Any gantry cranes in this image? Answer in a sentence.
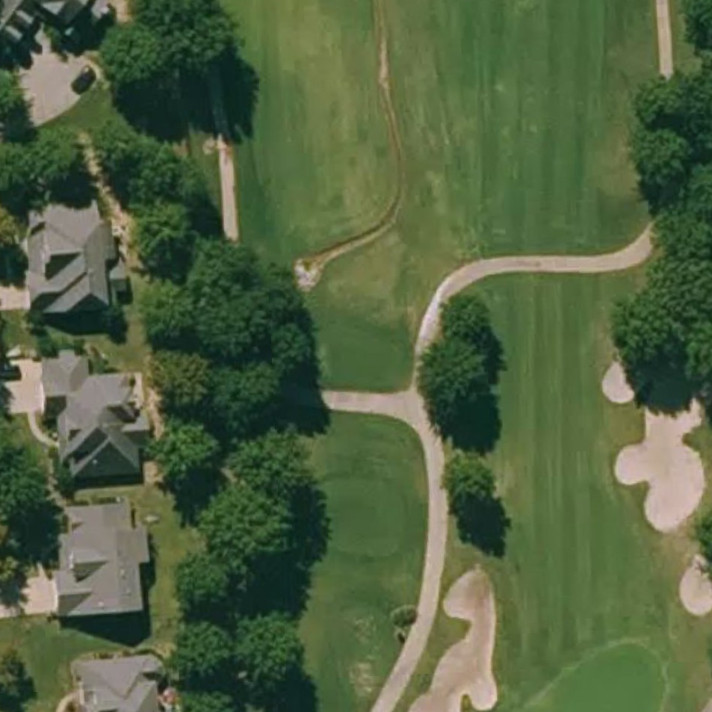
No, there is no gantry crane in the image.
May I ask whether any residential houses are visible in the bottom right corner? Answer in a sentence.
No, no residential house can be made out in the bottom right corner.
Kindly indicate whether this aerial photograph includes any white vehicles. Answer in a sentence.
No, there appears to be no white vehicle in this shot.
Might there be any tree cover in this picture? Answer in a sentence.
Yes, tree cover can be seen from above here.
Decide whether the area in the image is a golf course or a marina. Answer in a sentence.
What you see here is a golf course.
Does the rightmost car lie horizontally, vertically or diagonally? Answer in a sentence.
Seen from above, the rightmost car lies diagonally.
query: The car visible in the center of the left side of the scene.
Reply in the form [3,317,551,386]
[0,365,23,378]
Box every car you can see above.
[0,365,23,378]
[70,67,96,95]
